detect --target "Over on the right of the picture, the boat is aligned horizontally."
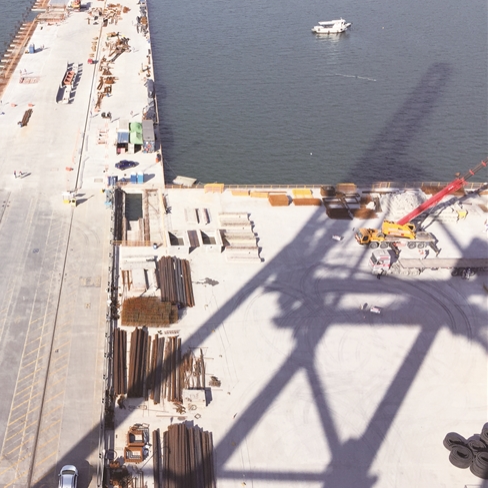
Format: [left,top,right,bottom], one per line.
[313,17,354,34]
